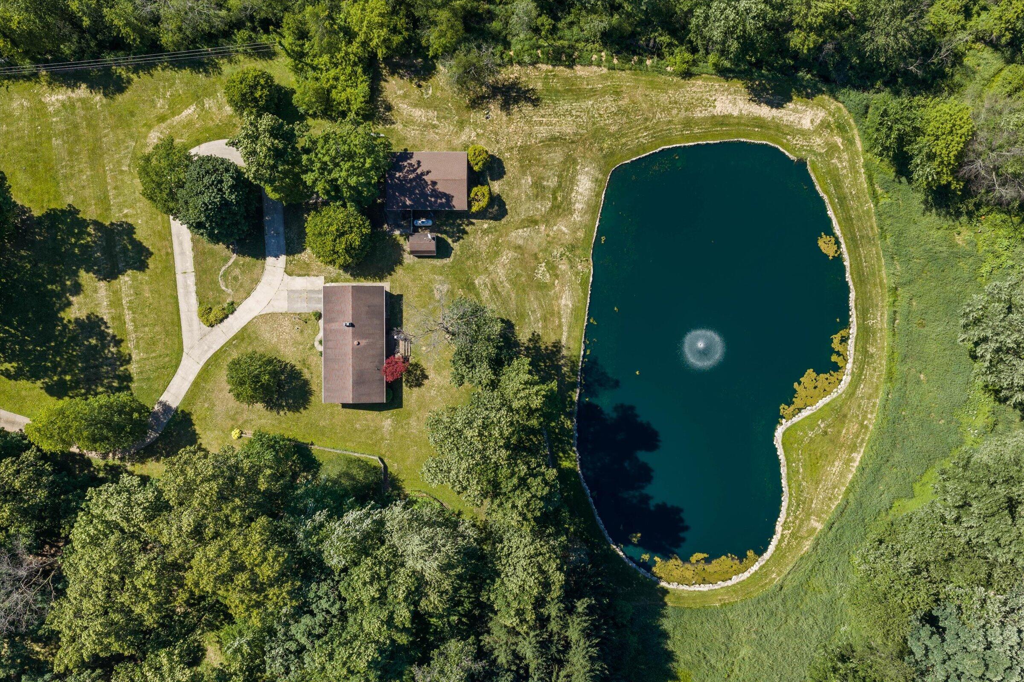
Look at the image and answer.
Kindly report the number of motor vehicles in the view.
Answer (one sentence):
Not a single motor vehicle can be seen.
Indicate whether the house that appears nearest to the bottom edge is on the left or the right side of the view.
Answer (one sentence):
You can find the house that appears nearest to the bottom edge on the left side of the picture.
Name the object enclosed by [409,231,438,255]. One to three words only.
shed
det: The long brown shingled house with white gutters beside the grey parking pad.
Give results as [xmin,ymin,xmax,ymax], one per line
[322,285,386,405]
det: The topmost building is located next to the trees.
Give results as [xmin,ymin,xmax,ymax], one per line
[384,151,468,210]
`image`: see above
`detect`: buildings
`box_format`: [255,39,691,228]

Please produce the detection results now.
[322,285,386,405]
[409,231,438,255]
[384,151,468,210]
